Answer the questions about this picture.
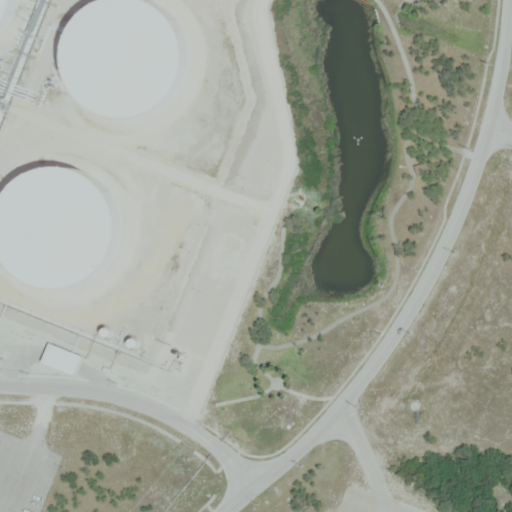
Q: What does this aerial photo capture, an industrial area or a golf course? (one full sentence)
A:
This looks like an industrial area.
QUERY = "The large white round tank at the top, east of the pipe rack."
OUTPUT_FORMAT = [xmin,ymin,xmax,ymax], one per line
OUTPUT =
[57,0,188,122]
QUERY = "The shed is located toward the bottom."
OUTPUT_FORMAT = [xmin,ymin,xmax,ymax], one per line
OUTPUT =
[40,342,82,376]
